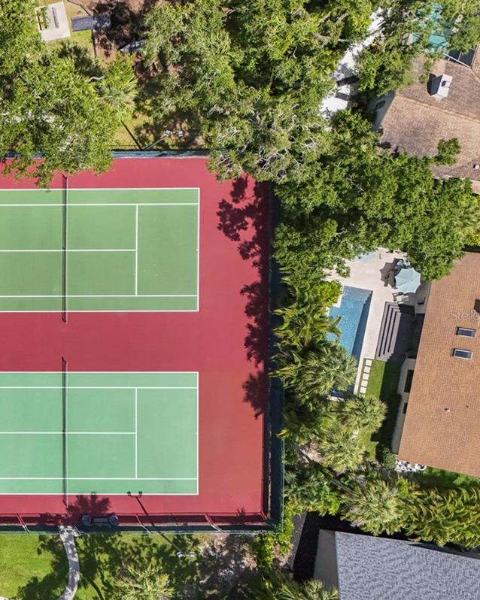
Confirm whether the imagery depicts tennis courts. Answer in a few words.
Yes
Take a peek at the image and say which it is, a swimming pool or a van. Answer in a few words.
swimming pool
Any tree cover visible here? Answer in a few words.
Yes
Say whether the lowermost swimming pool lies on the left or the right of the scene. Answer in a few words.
right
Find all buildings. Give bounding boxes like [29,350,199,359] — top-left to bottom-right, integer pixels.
[371,36,480,196]
[388,251,480,474]
[320,526,480,600]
